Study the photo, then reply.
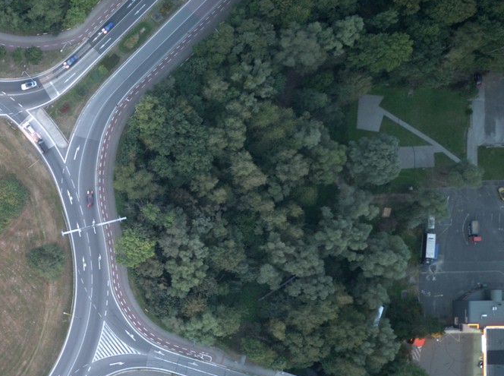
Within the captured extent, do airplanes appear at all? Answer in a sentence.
No, there's no airplane here.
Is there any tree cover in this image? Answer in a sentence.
Yes, there's tree cover in this view.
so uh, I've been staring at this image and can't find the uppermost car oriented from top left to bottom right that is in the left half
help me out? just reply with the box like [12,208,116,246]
[23,120,36,135]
